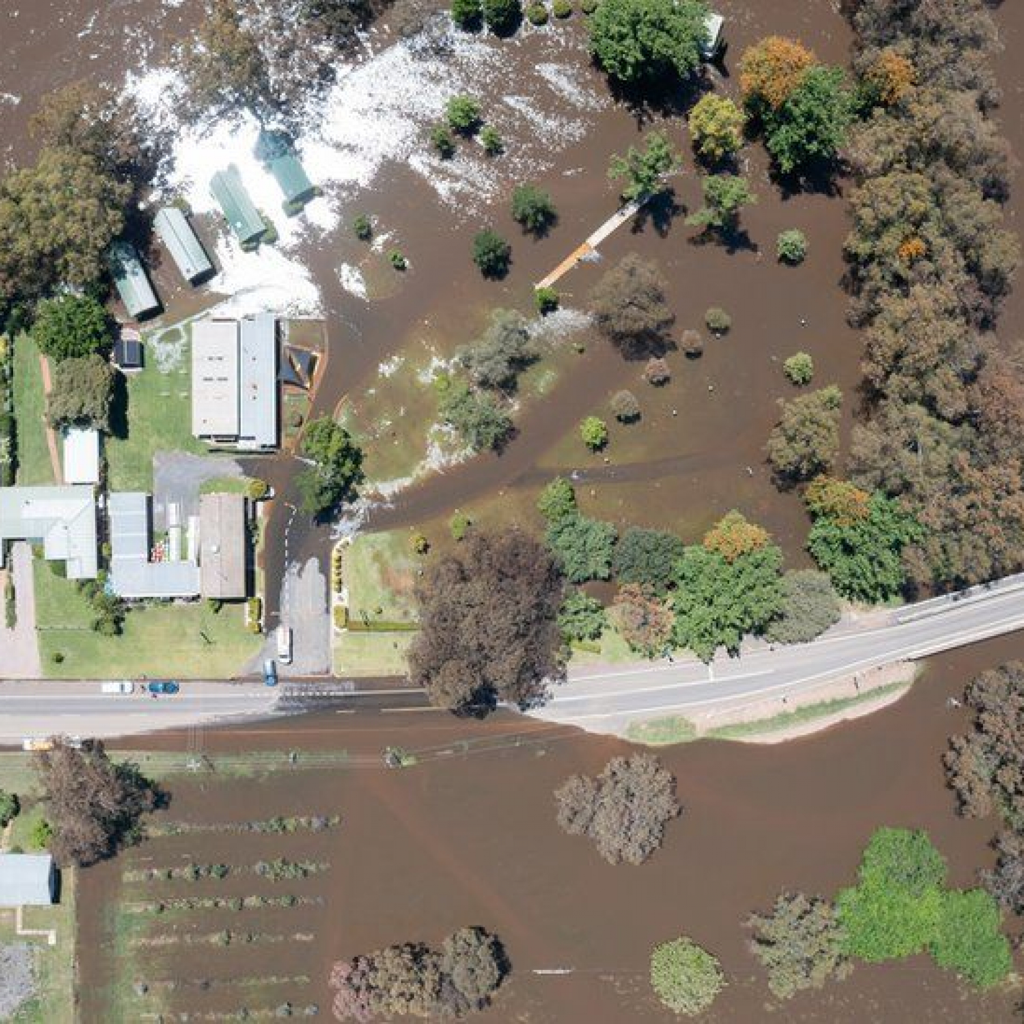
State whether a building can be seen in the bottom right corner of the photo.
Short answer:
No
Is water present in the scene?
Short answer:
Yes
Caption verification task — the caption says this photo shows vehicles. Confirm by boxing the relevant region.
[24,738,55,750]
[100,681,134,693]
[277,626,291,662]
[149,681,178,694]
[263,660,275,685]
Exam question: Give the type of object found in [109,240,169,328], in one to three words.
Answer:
building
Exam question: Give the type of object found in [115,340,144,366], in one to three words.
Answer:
shed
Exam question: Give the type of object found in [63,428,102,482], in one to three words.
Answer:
shed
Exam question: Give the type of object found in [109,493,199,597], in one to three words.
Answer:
house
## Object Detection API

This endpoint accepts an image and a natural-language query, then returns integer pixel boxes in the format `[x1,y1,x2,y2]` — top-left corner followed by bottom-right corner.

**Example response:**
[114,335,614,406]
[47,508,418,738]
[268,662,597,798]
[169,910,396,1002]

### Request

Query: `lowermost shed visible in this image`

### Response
[0,851,57,904]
